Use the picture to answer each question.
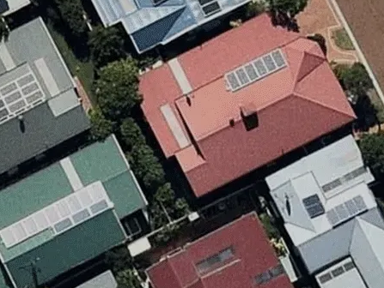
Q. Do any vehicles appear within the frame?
No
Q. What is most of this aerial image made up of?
buildings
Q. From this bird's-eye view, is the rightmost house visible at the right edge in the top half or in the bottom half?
bottom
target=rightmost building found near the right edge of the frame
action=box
[264,133,384,288]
